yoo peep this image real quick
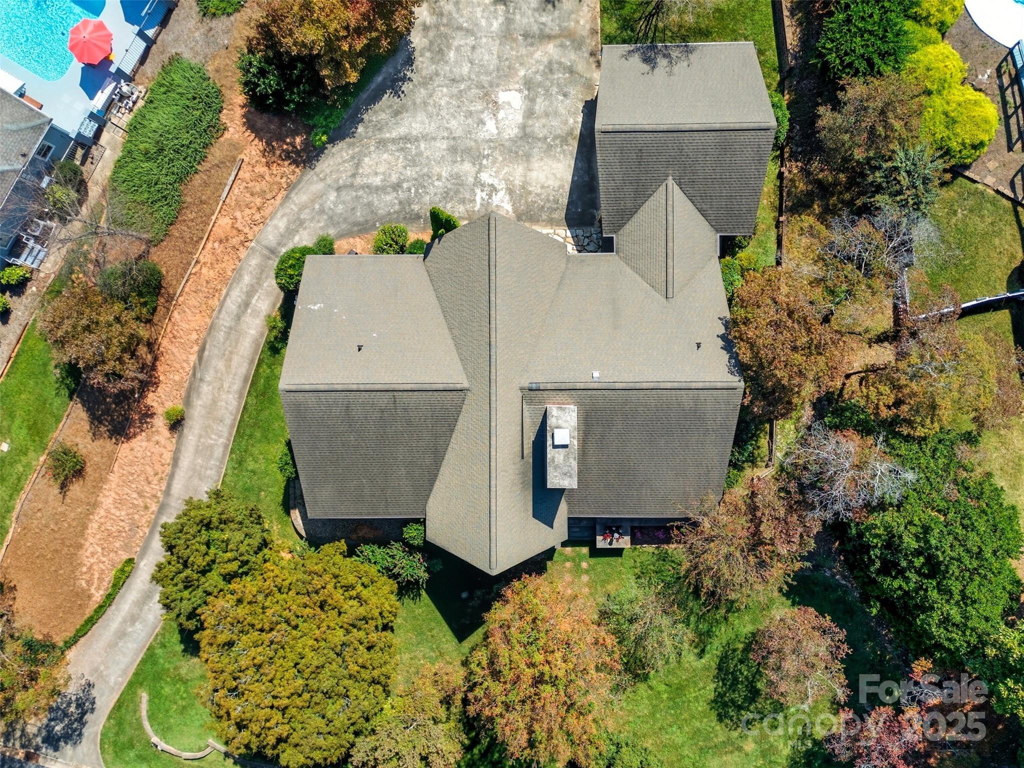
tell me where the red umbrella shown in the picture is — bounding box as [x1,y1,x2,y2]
[68,20,118,65]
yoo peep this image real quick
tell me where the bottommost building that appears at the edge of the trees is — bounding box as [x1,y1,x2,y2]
[278,177,745,576]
